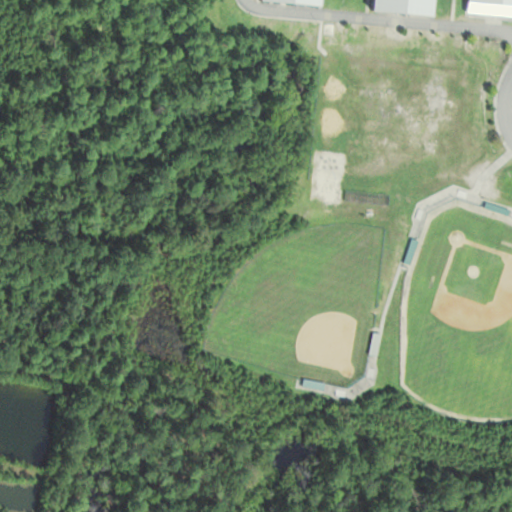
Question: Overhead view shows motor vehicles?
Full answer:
No, I can see no motor vehicle in this picture.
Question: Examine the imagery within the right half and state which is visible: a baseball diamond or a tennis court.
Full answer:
You can see a baseball diamond within the right half.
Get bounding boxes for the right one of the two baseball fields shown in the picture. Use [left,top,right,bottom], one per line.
[400,200,512,423]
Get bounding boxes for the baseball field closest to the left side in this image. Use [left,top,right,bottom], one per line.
[204,222,384,388]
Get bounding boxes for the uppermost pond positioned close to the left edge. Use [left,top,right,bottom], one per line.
[0,384,52,468]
